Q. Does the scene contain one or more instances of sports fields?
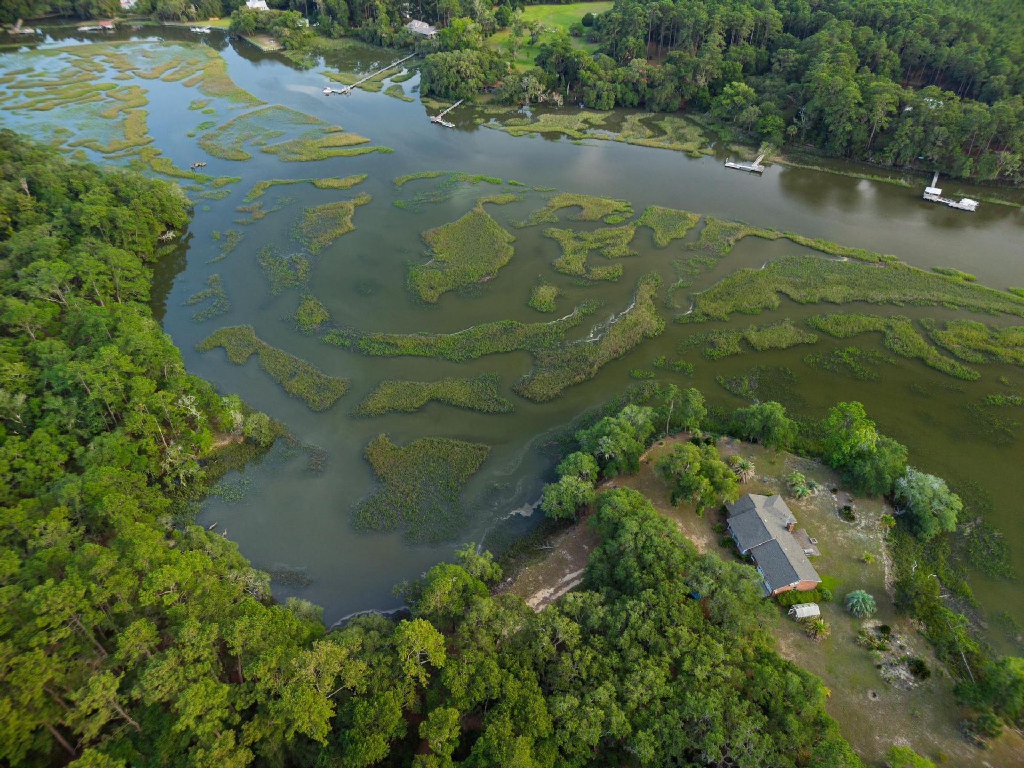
No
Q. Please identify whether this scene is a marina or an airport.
marina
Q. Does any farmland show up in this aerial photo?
No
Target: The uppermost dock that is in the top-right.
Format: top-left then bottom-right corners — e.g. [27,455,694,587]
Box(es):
[725,142,772,175]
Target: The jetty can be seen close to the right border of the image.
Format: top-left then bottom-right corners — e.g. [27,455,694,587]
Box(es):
[922,168,979,212]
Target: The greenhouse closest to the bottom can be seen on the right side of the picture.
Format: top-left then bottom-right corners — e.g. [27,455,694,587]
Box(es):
[788,605,826,630]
